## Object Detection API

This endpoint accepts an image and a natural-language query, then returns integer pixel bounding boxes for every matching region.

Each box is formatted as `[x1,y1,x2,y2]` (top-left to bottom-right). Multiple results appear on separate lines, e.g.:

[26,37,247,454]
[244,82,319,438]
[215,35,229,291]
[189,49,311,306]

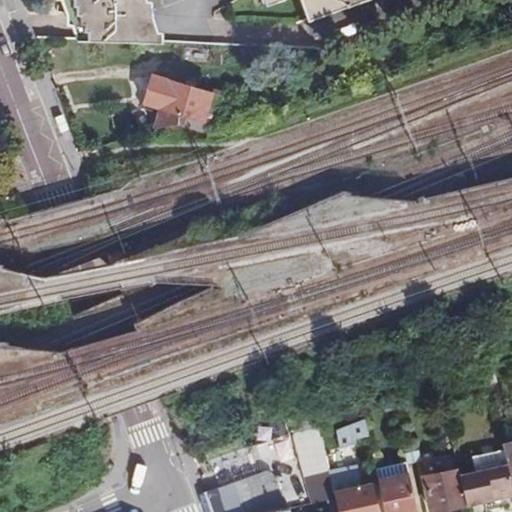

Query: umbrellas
[341,24,357,36]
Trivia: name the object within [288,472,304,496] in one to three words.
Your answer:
car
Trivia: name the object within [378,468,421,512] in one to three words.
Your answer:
house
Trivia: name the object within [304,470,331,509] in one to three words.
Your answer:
building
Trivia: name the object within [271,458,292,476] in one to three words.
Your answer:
car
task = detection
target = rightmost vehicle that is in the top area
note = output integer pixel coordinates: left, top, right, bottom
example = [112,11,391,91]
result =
[54,112,70,135]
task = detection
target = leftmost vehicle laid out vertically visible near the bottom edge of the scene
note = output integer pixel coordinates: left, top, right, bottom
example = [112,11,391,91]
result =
[130,461,146,494]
